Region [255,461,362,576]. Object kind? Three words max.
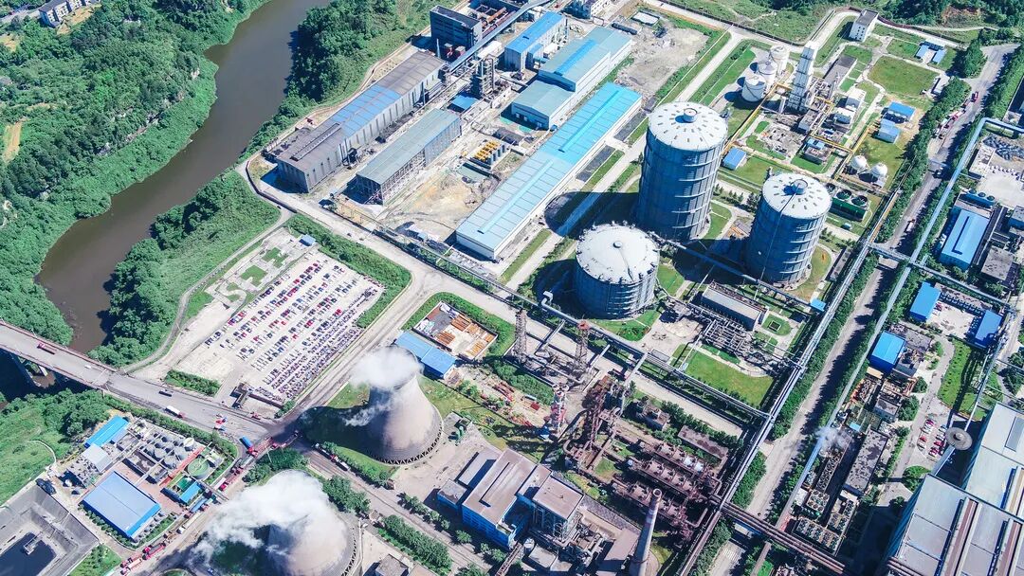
cooling tower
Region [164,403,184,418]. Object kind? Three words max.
vehicle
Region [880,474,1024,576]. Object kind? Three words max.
building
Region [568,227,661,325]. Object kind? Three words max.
storage tank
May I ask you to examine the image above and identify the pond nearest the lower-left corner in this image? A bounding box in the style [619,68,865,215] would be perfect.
[0,483,100,576]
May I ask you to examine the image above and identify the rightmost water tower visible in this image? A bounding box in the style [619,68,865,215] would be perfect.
[932,424,979,480]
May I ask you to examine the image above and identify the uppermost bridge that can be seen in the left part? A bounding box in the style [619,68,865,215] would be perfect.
[0,322,117,386]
